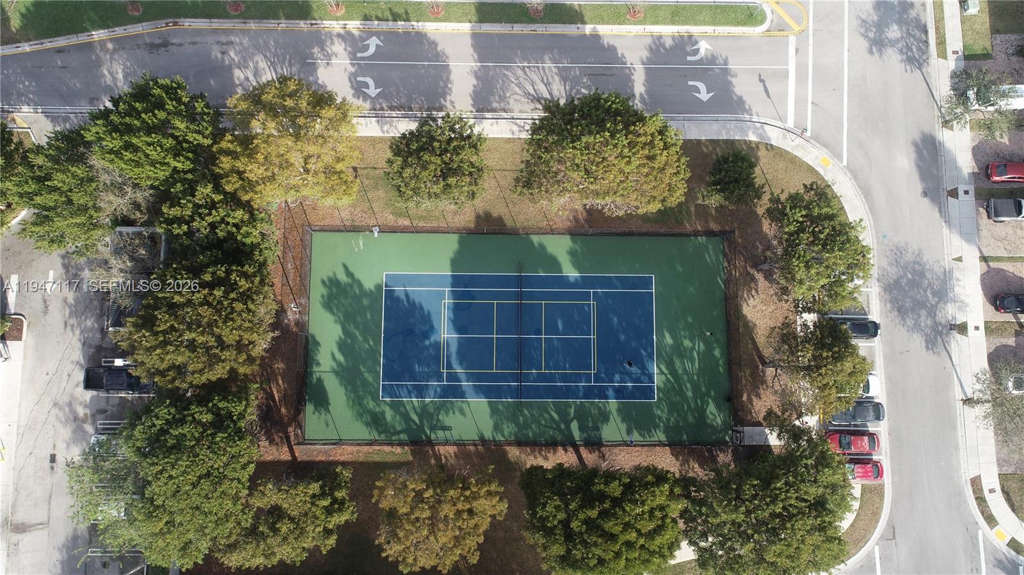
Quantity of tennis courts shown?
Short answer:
1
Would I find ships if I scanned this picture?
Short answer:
No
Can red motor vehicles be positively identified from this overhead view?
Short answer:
Yes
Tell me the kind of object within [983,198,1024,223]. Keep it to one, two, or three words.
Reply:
truck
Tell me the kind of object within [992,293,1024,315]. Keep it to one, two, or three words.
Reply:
car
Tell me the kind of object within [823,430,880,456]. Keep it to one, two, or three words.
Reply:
car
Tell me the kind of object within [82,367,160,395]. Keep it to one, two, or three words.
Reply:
truck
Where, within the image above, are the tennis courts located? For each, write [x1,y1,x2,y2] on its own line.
[303,232,732,447]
